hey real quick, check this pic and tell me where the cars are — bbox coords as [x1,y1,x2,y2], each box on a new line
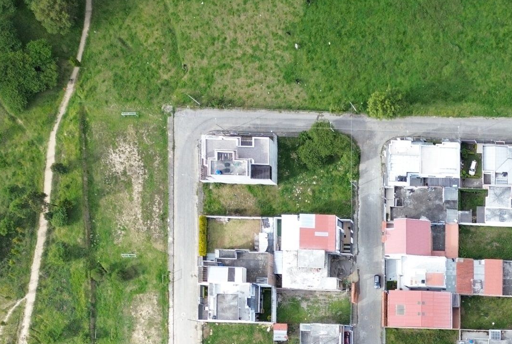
[373,275,381,289]
[468,159,478,176]
[345,332,352,344]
